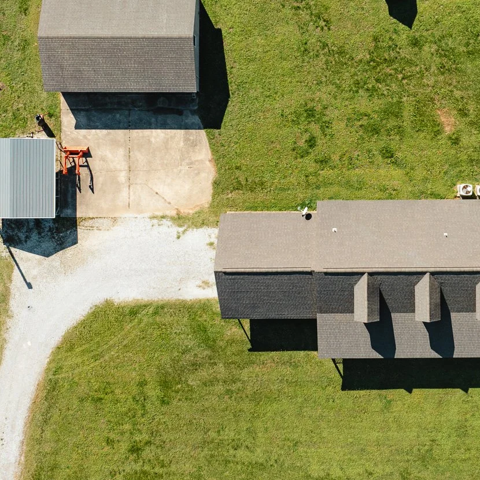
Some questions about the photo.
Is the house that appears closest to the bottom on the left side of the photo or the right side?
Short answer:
right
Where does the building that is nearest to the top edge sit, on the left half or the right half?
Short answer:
left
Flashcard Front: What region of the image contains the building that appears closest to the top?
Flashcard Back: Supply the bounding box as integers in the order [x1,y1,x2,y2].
[36,0,199,91]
